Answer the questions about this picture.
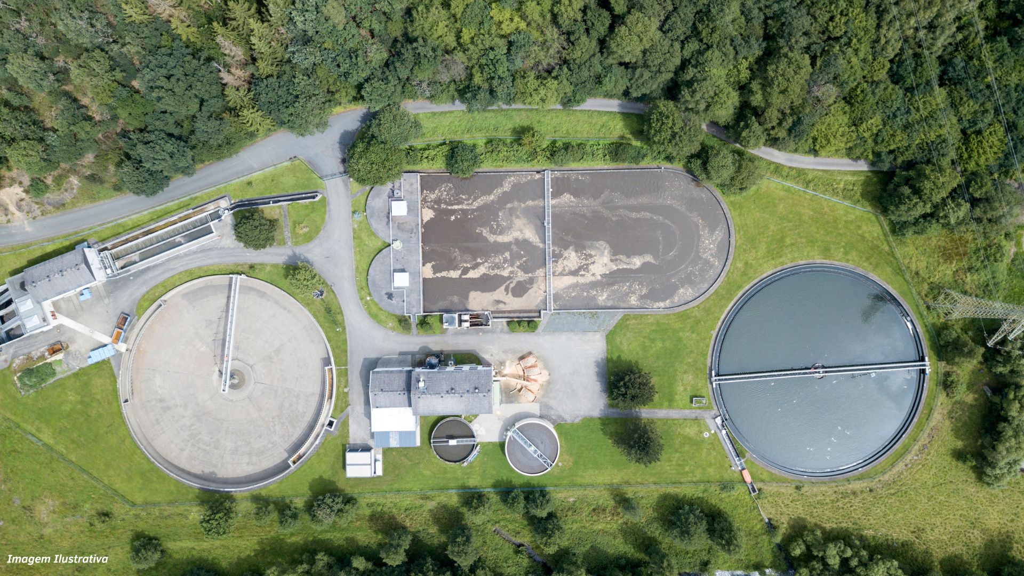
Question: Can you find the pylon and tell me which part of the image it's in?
right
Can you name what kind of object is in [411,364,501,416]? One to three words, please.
building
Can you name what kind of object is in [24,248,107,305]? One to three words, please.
building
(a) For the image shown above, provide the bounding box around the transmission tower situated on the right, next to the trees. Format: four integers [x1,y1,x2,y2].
[924,285,1024,348]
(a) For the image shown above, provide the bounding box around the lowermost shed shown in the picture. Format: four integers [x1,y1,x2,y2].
[346,447,376,477]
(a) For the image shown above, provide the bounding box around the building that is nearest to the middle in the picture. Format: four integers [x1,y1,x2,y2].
[444,312,495,328]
